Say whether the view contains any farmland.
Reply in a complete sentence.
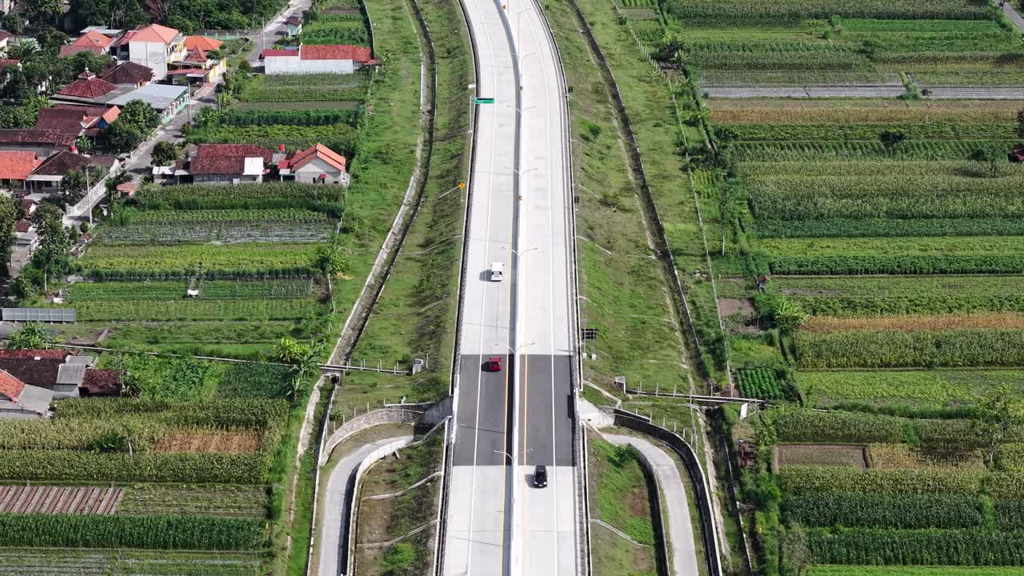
Yes, farmland shows up in the scene.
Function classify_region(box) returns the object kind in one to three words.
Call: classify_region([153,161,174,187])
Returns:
shed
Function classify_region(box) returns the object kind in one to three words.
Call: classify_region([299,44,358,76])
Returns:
building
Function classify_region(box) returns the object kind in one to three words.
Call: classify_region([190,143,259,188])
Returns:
house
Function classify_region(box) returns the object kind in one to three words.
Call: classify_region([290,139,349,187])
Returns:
house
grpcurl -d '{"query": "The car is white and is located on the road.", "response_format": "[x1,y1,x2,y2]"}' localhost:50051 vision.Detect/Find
[490,263,504,279]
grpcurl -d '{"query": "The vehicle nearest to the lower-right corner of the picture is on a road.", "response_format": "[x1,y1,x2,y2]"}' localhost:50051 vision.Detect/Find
[532,460,549,483]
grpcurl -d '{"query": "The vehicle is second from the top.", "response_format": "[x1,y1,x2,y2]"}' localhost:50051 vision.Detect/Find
[487,354,501,369]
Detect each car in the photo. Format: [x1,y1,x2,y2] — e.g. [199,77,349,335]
[490,263,504,279]
[532,460,549,483]
[487,354,501,369]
